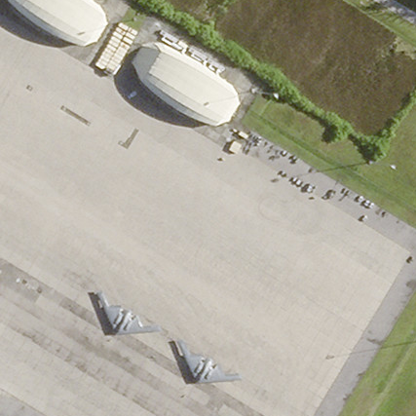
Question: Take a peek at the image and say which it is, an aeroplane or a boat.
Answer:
aeroplane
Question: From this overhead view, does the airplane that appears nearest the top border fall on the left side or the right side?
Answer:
left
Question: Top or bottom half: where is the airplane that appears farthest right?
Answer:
bottom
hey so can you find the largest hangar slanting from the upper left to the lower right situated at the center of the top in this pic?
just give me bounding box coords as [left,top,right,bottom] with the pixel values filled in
[132,41,241,125]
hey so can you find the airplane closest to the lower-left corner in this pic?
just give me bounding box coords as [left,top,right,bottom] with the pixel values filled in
[99,294,161,334]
